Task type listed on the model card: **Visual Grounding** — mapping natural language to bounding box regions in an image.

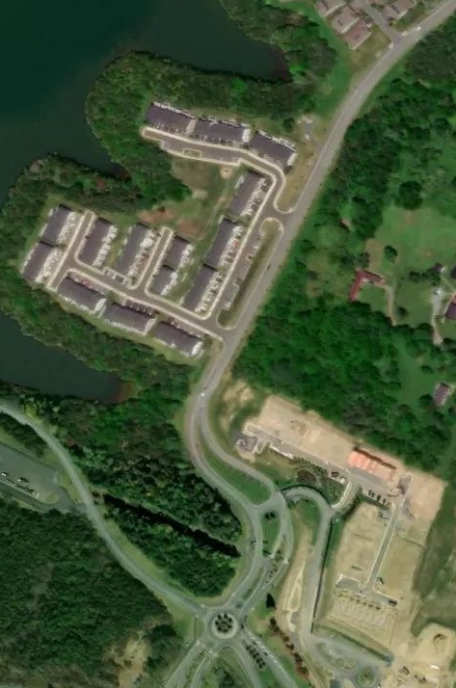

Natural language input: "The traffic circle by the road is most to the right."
[350,662,380,688]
